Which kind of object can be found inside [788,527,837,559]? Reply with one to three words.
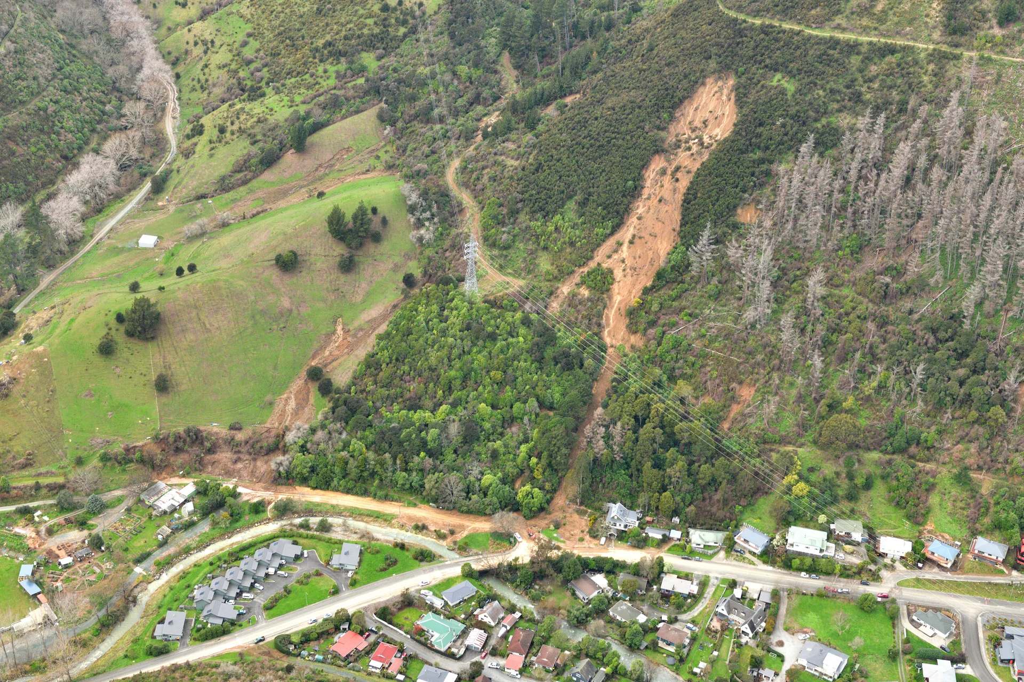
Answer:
house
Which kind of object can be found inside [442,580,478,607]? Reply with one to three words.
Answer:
house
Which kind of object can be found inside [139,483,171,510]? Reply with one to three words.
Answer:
shed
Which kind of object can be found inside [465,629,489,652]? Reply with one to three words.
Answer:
building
